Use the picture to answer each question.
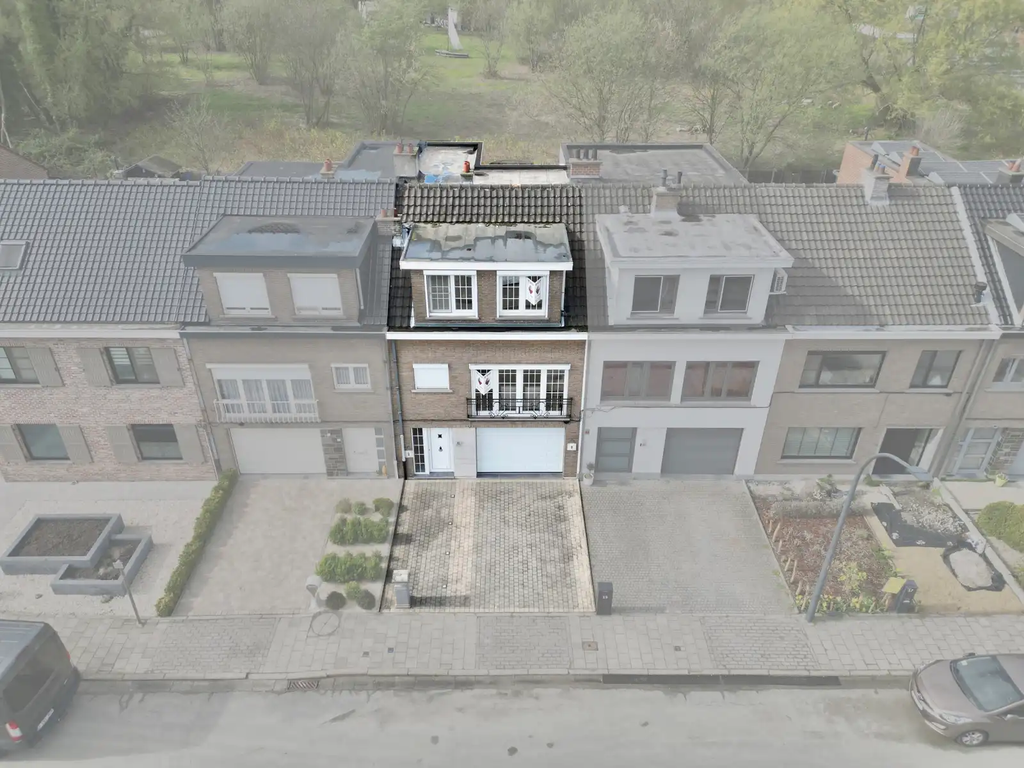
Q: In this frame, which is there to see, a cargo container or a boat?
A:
boat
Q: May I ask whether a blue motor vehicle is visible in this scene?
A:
No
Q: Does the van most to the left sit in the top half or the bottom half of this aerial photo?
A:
bottom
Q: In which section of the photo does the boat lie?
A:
top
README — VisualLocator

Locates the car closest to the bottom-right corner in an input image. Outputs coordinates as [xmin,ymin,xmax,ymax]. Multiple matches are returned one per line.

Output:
[906,655,1024,748]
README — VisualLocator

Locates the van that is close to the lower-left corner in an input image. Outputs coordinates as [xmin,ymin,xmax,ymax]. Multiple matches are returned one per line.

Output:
[0,632,81,747]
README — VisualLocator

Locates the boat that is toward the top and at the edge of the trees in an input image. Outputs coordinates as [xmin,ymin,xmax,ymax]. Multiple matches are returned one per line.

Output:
[430,8,473,54]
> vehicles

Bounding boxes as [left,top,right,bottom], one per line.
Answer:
[906,655,1024,748]
[0,632,81,747]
